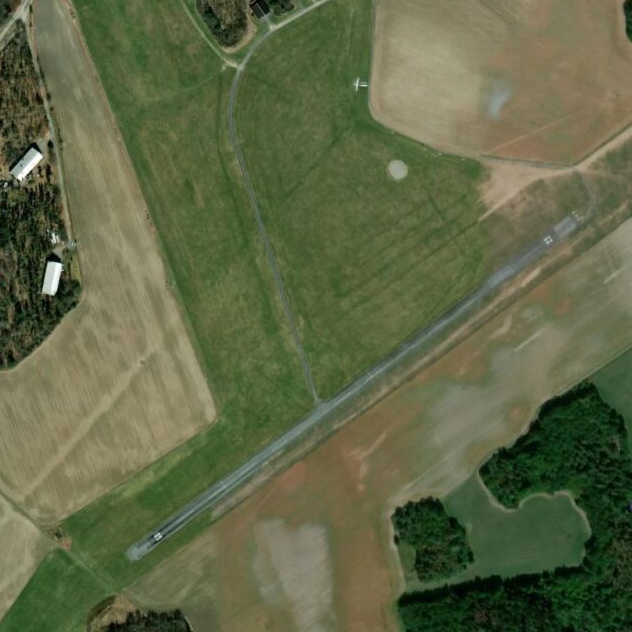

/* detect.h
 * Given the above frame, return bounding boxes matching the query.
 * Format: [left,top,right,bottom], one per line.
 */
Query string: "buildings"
[250,0,271,19]
[10,147,43,182]
[42,261,62,296]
